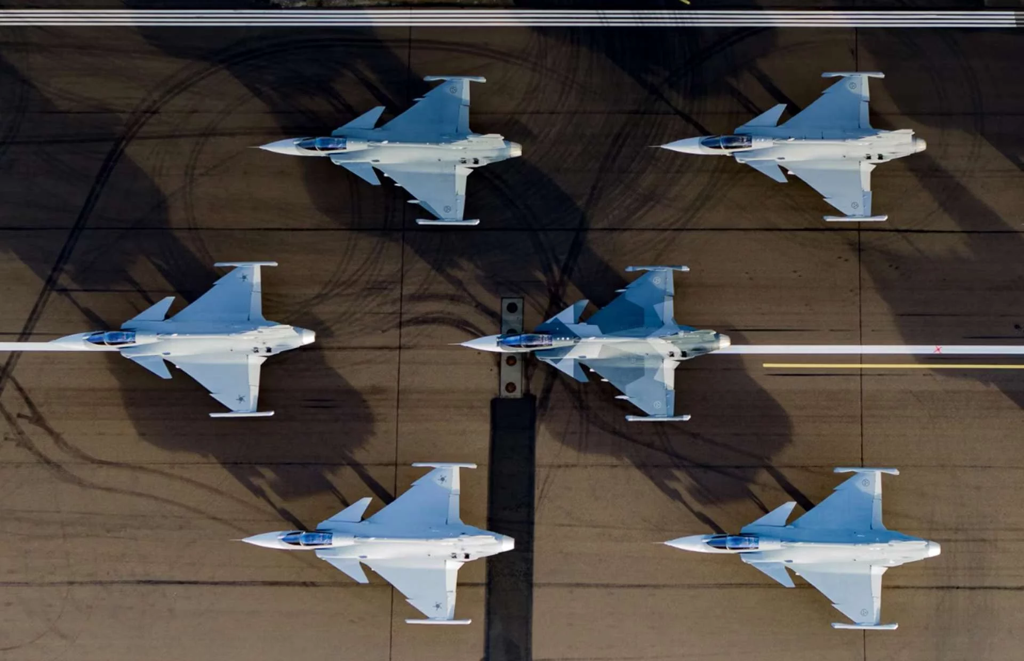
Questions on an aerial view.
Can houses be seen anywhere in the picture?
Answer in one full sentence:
No, the photo shows no house.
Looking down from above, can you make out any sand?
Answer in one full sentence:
No, there is no sand in the image.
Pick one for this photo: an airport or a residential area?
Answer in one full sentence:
This looks like an airport.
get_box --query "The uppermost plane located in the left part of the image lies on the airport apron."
[255,75,521,226]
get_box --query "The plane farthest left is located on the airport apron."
[40,260,316,419]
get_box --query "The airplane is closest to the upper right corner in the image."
[648,70,927,223]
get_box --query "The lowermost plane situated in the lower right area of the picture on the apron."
[664,467,941,631]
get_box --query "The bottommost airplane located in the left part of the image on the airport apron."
[238,463,515,625]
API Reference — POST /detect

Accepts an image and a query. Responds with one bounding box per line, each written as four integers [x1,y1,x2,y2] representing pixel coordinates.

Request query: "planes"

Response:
[648,70,927,223]
[238,463,515,625]
[40,260,316,419]
[459,265,731,422]
[664,467,941,631]
[255,75,521,226]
